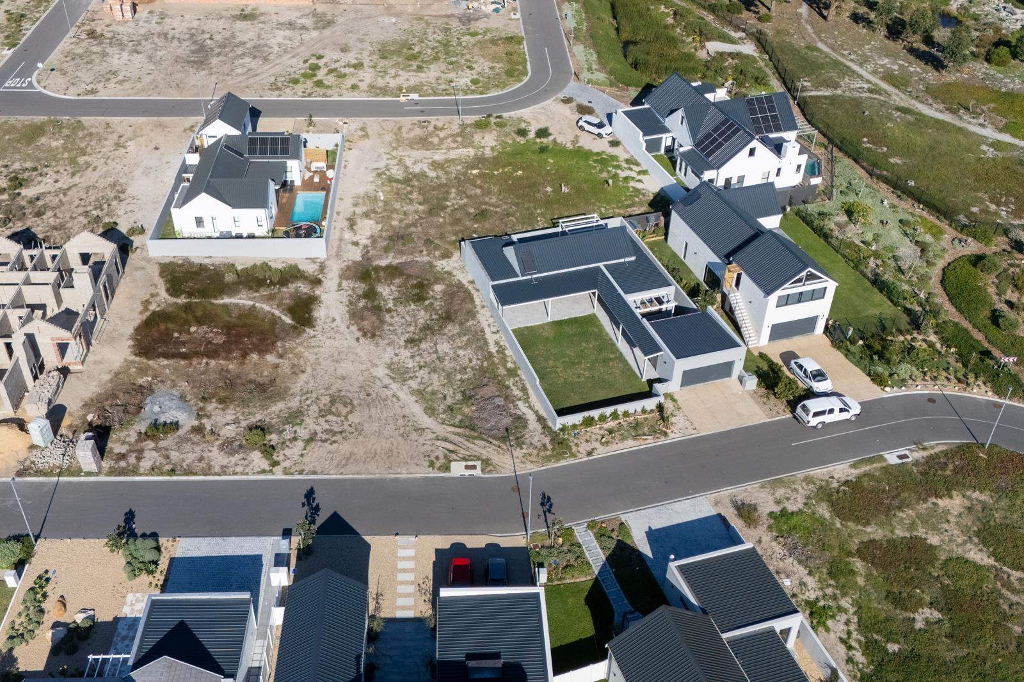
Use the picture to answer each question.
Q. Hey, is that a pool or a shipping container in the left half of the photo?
pool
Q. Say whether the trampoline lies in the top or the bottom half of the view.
top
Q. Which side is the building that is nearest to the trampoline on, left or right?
left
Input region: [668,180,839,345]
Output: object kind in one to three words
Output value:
house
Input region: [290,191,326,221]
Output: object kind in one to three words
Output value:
swimming pool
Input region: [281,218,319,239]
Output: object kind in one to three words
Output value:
trampoline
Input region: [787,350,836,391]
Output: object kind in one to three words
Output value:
car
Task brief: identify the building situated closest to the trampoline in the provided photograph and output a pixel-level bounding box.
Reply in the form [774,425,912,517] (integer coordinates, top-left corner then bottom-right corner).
[171,125,306,236]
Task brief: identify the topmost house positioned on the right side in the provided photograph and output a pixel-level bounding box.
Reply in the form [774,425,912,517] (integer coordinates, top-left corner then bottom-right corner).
[617,74,821,191]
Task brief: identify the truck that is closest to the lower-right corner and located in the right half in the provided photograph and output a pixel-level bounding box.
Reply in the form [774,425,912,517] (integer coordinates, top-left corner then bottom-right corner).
[797,389,866,426]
